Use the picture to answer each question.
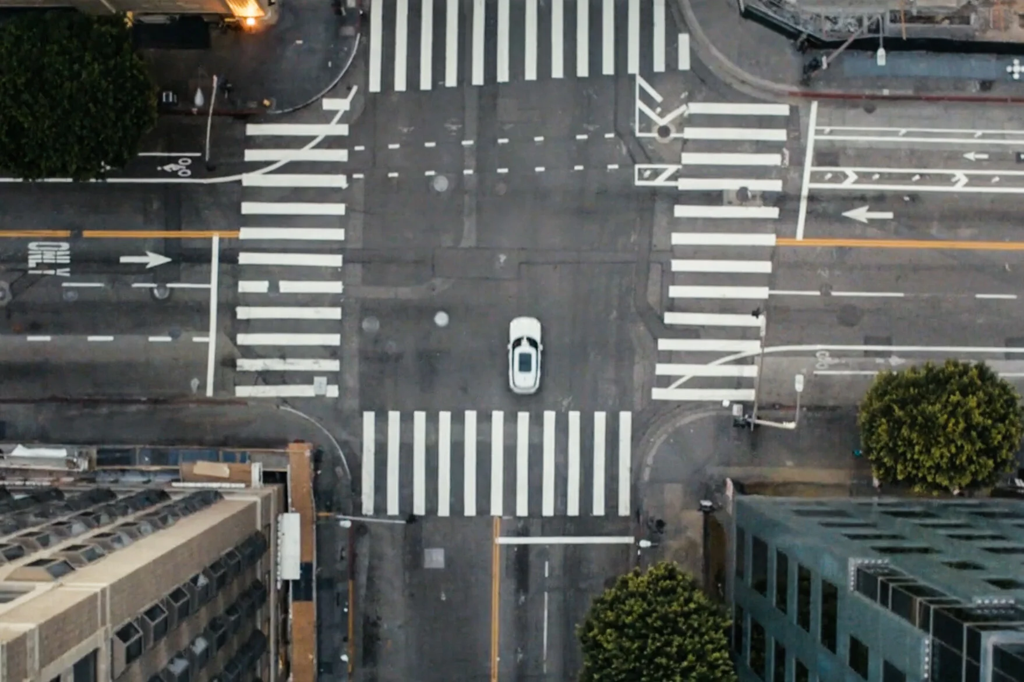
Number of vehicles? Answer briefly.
one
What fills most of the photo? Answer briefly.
paved ground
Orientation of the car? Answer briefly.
from top to bottom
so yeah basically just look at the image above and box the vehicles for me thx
[507,317,544,394]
